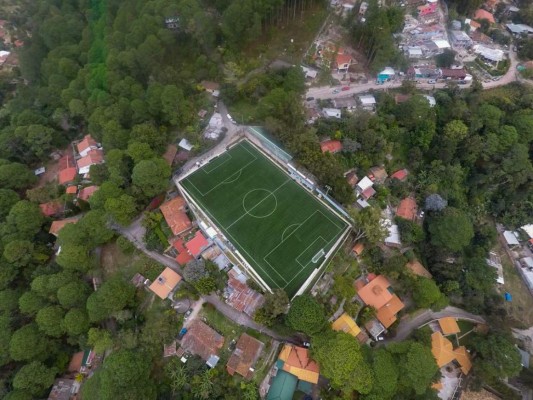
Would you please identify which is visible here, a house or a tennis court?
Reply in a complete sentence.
It is a house that can be seen here.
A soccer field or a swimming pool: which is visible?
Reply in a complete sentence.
The one in the frame is a soccer field.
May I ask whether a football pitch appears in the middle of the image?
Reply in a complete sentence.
Yes, a football pitch can be seen in the middle of the image.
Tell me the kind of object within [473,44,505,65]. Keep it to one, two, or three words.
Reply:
building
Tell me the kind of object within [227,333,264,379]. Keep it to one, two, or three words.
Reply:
house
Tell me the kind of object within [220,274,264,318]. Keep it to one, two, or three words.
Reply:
house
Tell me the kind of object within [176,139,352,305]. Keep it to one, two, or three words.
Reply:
soccer field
